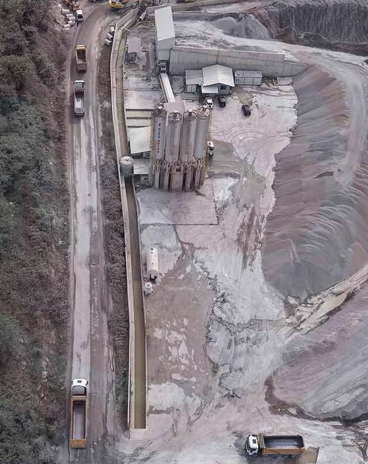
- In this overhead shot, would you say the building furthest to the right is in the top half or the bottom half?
top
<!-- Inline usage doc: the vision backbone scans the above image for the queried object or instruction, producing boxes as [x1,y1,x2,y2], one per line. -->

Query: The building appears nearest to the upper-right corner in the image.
[201,65,235,100]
